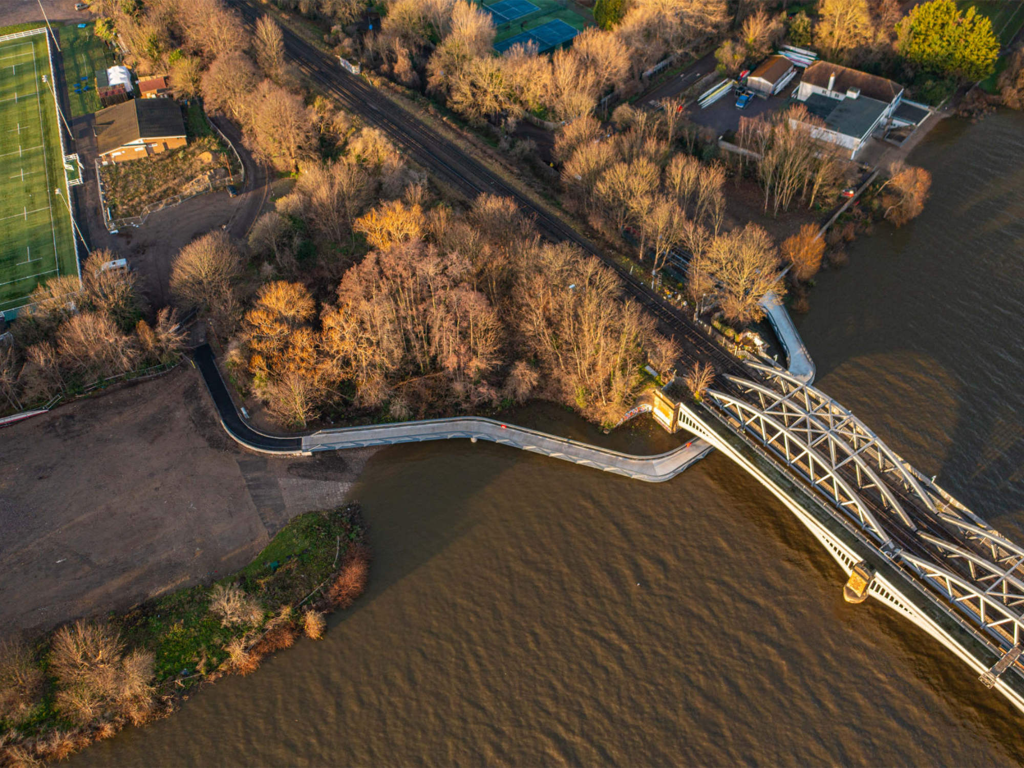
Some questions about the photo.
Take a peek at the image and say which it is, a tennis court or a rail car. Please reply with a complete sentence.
Visible in the photo is a tennis court.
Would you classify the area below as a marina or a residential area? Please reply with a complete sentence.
The area seen from above is a marina.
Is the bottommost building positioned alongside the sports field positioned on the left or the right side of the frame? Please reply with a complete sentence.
The bottommost building positioned alongside the sports field is on the left side of the image.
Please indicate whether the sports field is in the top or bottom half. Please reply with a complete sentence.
The sports field sits in the top half of the picture.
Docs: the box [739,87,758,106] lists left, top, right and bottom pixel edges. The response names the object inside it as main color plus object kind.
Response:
blue vehicle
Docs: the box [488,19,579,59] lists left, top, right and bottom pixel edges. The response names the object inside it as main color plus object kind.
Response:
blue tennis court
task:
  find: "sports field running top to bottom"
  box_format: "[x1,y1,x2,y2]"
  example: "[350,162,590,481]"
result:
[0,37,85,325]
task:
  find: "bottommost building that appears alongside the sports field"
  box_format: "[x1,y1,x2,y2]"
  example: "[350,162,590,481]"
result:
[91,98,187,168]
